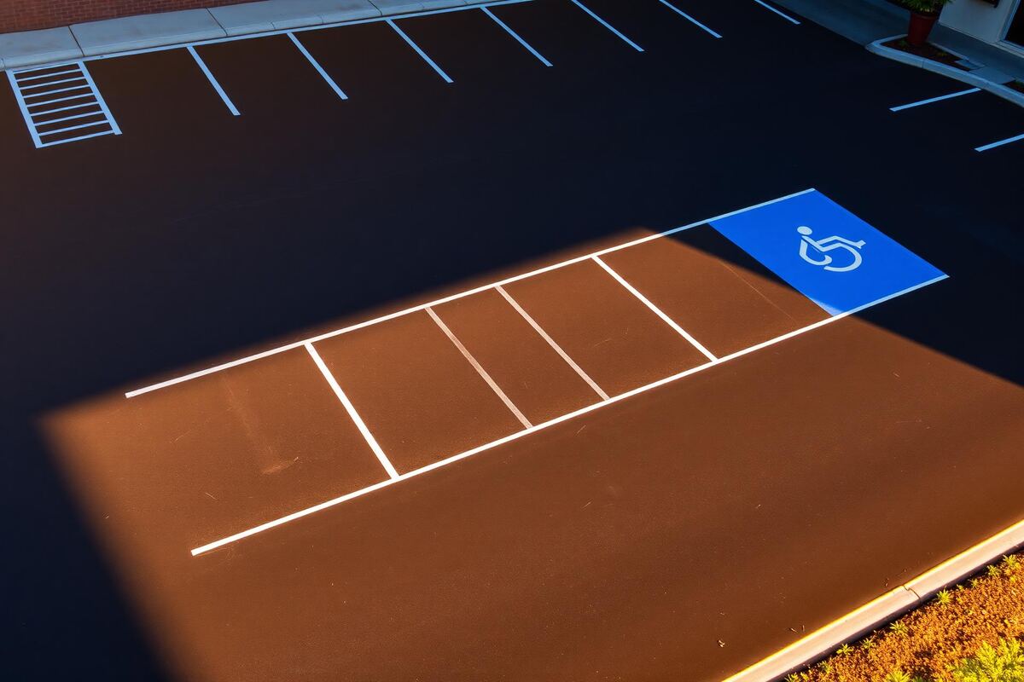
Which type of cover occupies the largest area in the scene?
paved ground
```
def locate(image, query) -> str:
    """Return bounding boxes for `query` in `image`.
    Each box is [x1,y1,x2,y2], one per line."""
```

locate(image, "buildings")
[0,0,258,35]
[937,0,1024,58]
